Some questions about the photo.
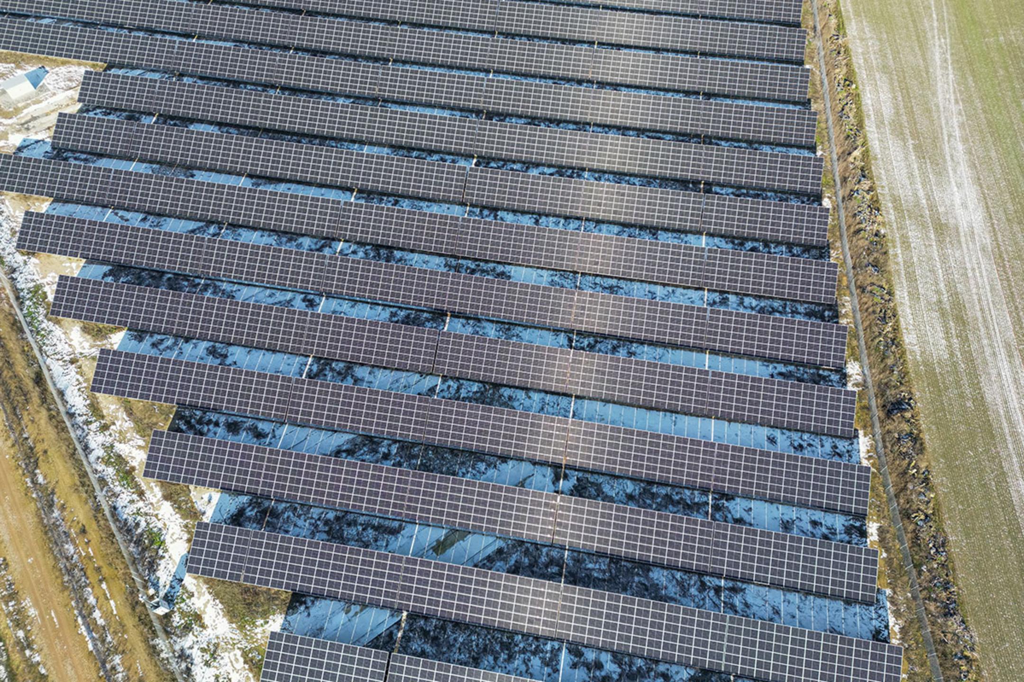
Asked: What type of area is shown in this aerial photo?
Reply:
solar farm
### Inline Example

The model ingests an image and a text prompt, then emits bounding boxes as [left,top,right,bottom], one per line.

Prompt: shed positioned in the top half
[3,73,36,99]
